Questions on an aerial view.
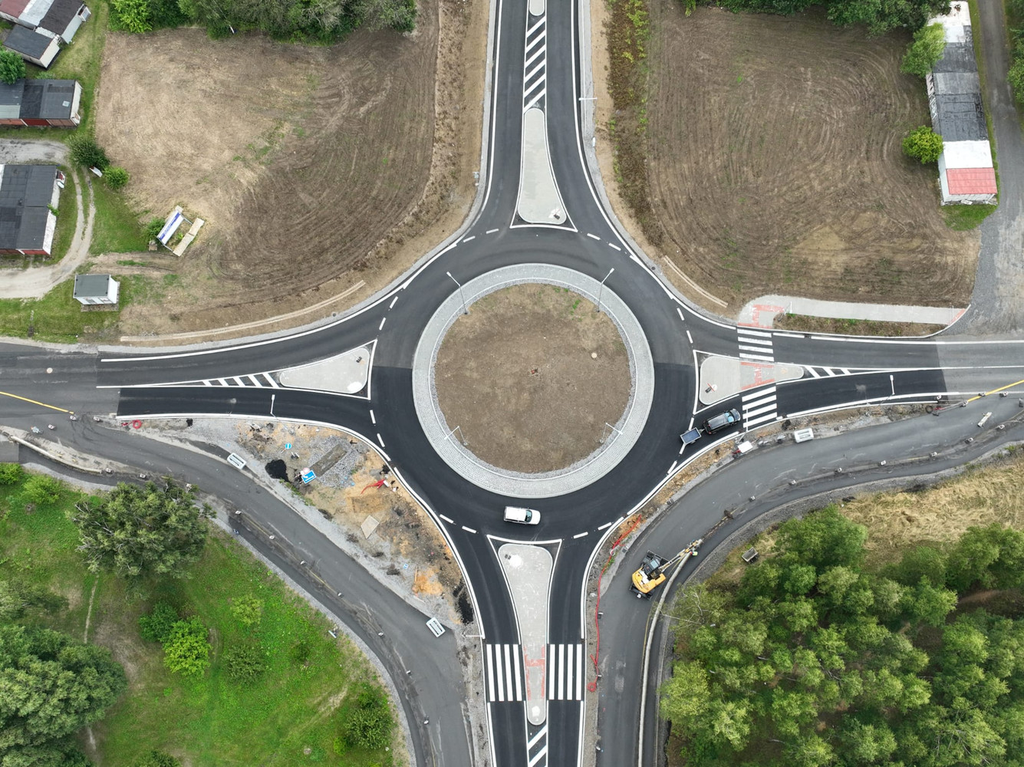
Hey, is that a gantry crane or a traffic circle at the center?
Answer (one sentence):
What appears at the center is a traffic circle.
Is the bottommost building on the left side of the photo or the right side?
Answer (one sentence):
It is on the left.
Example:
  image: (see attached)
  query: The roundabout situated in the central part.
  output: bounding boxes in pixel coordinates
[371,231,696,546]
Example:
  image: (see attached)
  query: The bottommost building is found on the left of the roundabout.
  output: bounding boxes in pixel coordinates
[74,275,117,304]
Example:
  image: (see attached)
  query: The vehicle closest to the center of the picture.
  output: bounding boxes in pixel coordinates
[504,509,540,527]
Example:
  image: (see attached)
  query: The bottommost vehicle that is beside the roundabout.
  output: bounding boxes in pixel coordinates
[629,536,704,602]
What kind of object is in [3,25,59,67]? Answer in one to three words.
building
